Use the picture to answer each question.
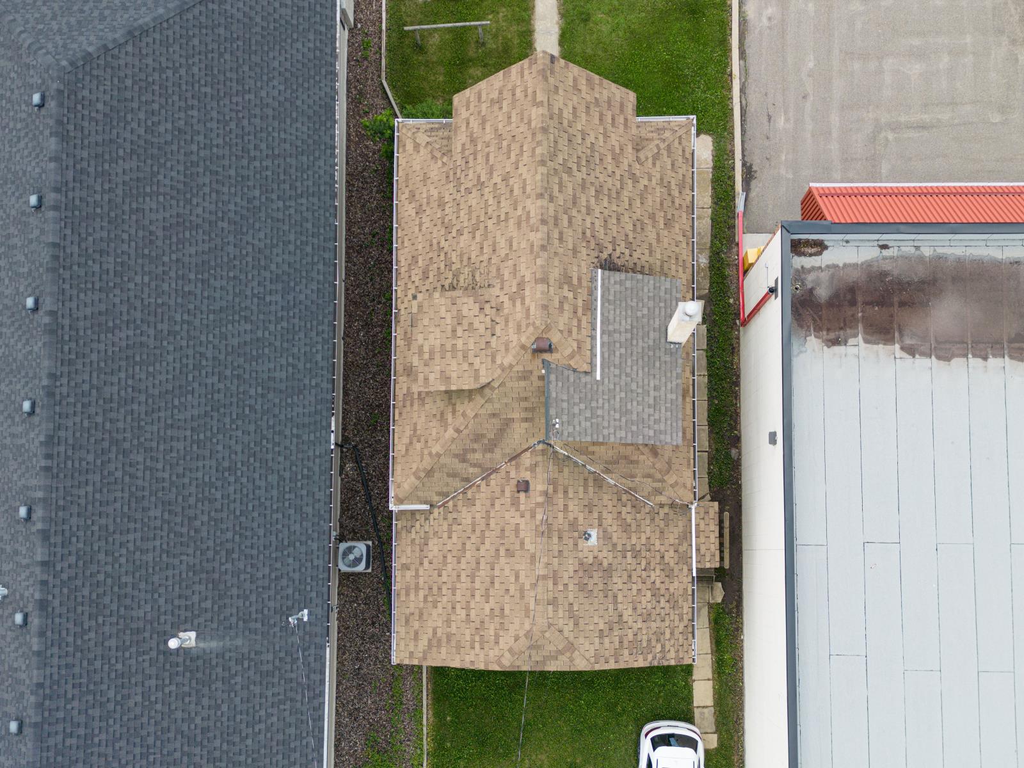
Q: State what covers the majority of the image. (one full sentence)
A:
Most of the picture is covered by buildings.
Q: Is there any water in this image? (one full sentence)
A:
No, water can't be seen anywhere here.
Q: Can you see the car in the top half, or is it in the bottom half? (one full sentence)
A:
It is in the bottom half that the car appears.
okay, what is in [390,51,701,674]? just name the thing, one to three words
house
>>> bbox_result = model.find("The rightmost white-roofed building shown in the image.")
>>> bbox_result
[733,185,1024,768]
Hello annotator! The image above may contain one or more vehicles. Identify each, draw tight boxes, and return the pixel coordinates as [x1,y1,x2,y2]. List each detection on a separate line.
[638,720,705,768]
